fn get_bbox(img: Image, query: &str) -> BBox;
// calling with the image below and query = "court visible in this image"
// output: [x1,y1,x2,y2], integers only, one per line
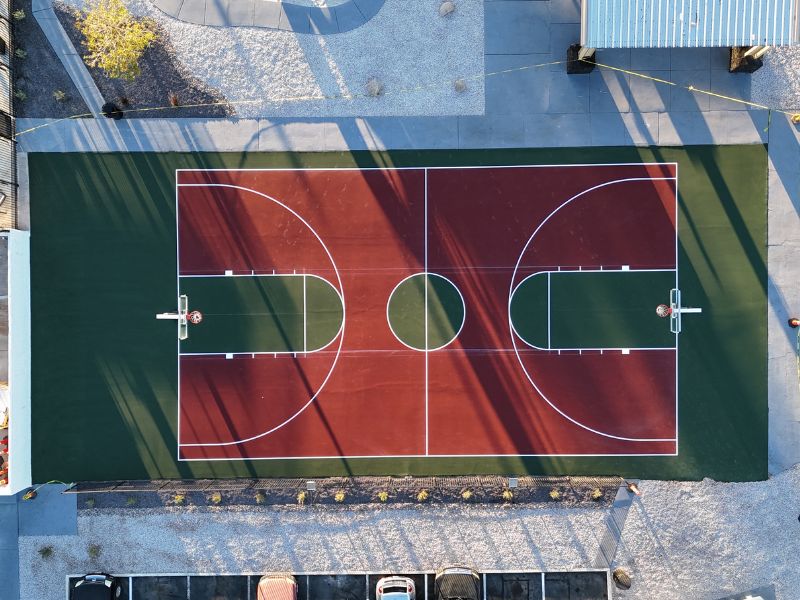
[29,145,769,485]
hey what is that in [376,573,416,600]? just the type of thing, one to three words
car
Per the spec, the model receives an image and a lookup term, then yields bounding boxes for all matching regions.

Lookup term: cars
[435,562,480,600]
[376,573,416,600]
[77,570,123,600]
[258,568,300,600]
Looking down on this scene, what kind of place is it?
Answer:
sports ground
